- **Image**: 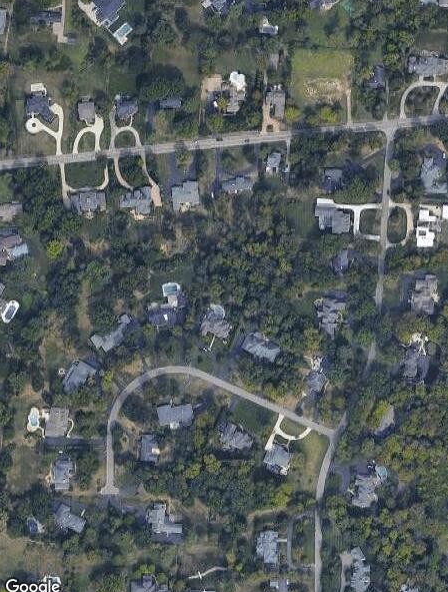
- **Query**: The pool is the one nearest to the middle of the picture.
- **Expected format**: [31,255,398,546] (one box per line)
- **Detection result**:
[163,283,181,296]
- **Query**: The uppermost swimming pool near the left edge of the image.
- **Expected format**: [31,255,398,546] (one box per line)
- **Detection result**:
[1,299,19,322]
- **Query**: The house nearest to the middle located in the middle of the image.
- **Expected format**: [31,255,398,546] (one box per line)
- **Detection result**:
[200,302,230,337]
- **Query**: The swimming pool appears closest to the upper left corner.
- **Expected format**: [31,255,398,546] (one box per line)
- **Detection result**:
[113,21,133,39]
